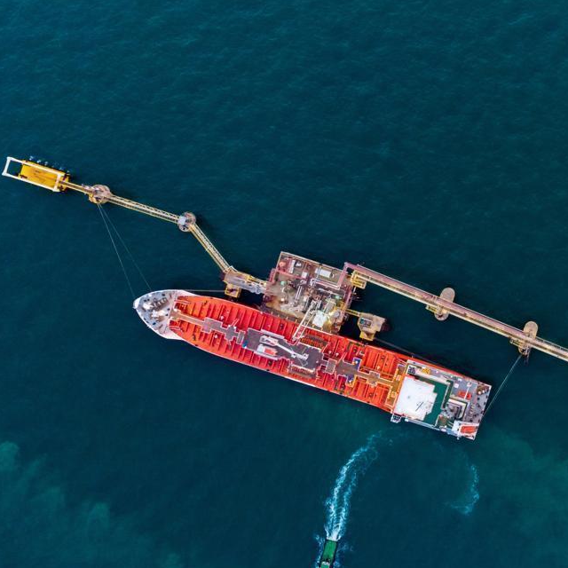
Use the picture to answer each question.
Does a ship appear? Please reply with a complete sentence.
Yes, a ship can be made out from above.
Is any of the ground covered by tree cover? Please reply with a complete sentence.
No, the picture contains no tree cover.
